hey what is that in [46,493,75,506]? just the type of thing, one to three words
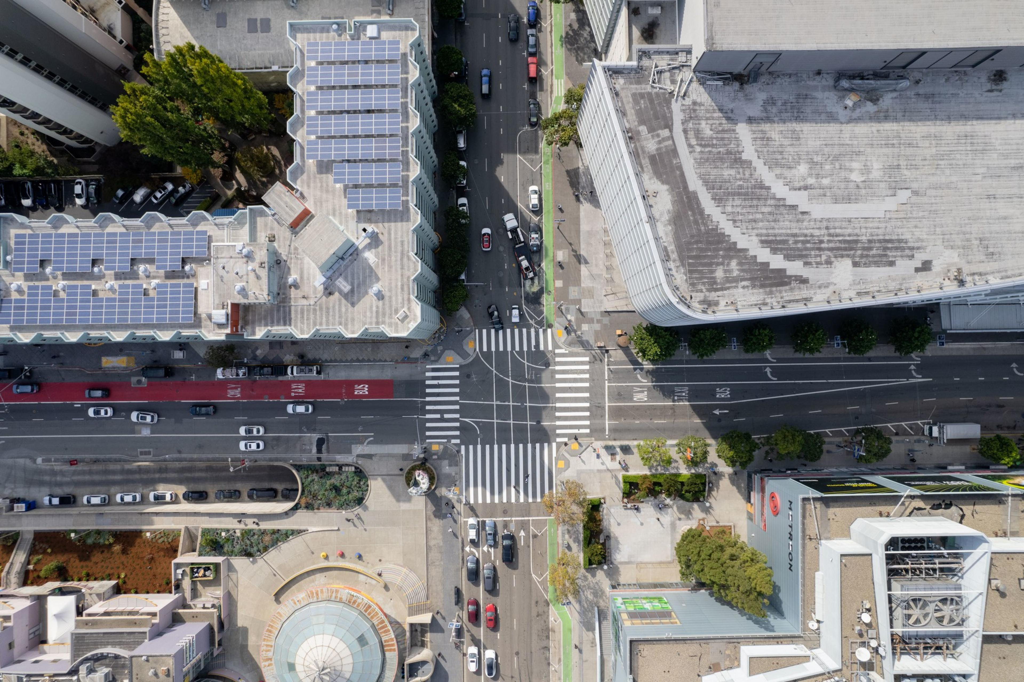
vehicle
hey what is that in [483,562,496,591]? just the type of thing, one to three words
vehicle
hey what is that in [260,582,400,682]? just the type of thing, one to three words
building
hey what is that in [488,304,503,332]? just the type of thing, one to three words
car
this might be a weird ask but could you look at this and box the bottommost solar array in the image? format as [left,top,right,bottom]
[0,282,194,324]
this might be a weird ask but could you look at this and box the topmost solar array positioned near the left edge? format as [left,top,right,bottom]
[12,231,207,273]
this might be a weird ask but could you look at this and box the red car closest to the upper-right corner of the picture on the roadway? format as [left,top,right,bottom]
[527,57,539,83]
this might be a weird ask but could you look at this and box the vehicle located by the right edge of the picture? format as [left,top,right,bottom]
[922,423,980,439]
